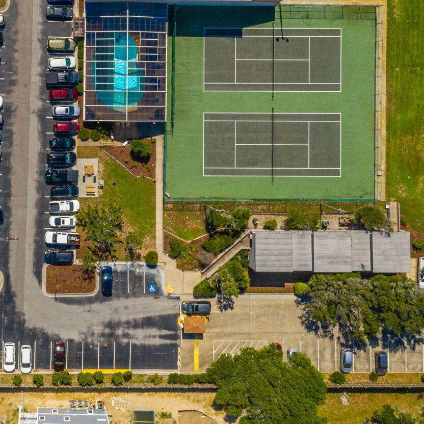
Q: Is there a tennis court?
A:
Yes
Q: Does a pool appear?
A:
Yes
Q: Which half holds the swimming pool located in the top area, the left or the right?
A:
left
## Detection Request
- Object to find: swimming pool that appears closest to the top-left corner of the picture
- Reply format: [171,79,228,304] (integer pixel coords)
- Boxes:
[94,29,146,110]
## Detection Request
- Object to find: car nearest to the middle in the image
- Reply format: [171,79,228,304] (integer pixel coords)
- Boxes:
[180,301,212,316]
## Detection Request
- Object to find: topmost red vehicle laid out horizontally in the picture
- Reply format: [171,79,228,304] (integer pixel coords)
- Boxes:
[50,88,77,101]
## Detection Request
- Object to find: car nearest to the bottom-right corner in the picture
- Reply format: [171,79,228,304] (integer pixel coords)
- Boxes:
[374,350,388,374]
